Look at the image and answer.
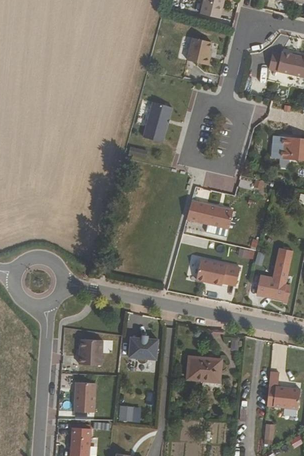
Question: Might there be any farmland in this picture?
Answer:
Yes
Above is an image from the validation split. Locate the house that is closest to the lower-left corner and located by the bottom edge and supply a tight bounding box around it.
[70,428,92,456]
